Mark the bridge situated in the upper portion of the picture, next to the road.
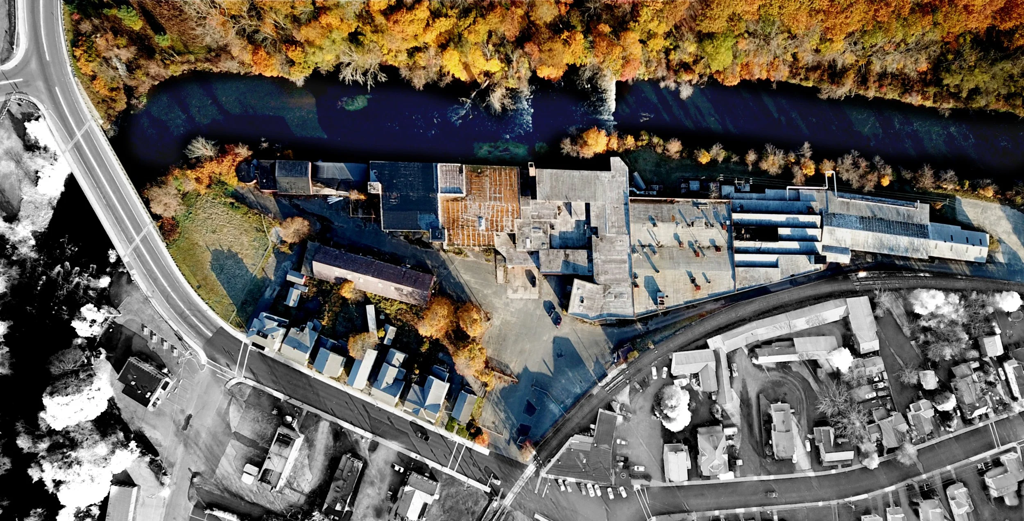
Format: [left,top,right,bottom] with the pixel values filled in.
[44,119,172,274]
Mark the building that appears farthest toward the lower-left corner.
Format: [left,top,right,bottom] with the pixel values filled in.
[106,484,141,521]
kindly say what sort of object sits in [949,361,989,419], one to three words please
house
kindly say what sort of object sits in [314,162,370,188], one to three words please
shed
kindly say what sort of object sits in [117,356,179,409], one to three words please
building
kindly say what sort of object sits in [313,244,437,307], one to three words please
barn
